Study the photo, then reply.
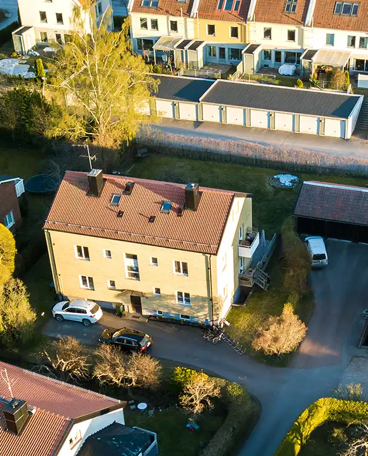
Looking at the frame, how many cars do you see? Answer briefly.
3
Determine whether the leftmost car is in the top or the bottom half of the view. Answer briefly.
bottom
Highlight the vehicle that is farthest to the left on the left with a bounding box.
[50,299,108,330]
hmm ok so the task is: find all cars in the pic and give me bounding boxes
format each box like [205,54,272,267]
[50,299,108,330]
[304,239,330,269]
[97,327,157,357]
